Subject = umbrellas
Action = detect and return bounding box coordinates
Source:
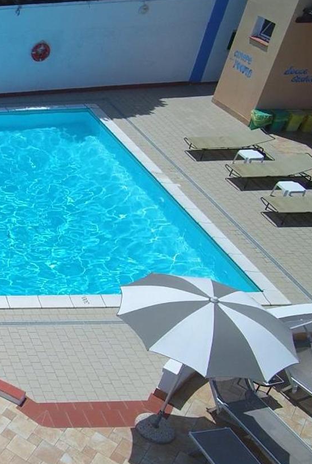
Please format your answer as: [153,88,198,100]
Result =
[115,274,301,446]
